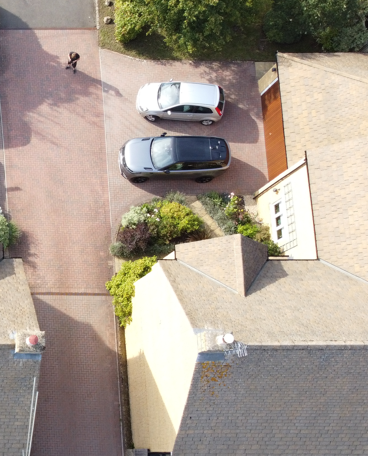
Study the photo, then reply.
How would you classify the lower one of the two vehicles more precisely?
car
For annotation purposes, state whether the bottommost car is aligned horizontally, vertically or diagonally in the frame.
horizontally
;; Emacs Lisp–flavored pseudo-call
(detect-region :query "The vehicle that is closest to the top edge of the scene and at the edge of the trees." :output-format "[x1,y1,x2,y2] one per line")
[136,77,225,127]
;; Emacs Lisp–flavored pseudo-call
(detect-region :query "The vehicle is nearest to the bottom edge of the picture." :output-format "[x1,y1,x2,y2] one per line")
[117,131,232,184]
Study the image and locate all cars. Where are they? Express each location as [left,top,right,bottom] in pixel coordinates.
[117,131,232,184]
[136,77,225,127]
